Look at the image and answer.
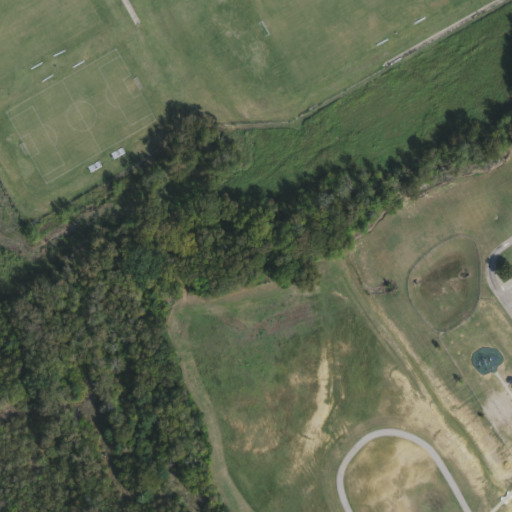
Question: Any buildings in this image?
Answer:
No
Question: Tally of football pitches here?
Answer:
1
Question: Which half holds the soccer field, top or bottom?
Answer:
top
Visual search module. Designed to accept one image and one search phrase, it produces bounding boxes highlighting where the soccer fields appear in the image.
[5,47,158,185]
